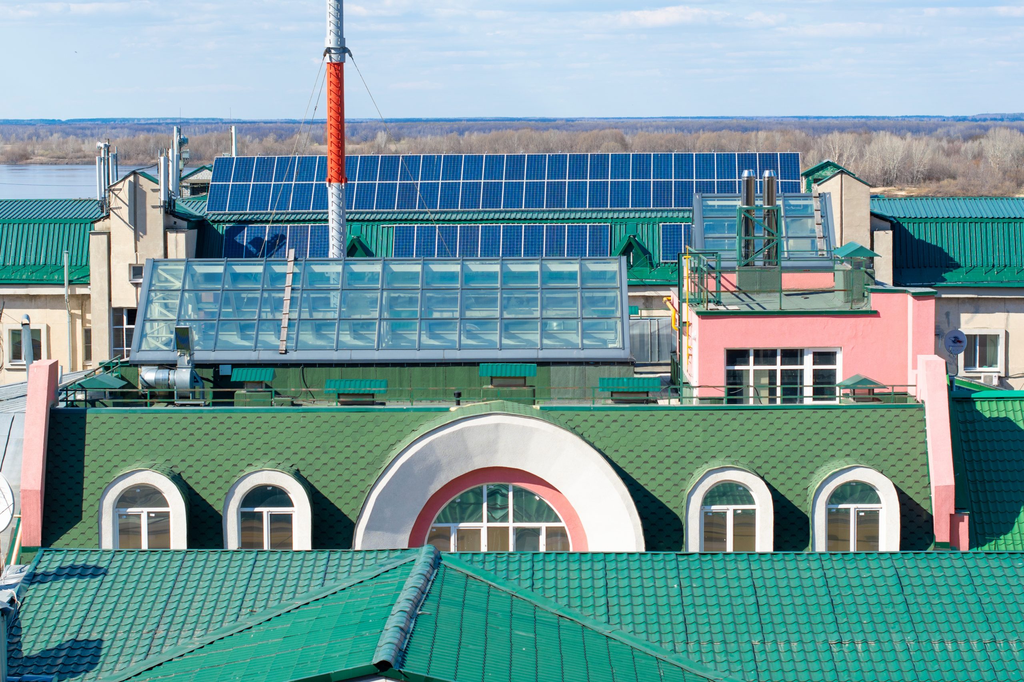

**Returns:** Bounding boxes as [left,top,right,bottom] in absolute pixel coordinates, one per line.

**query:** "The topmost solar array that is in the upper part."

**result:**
[208,152,800,212]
